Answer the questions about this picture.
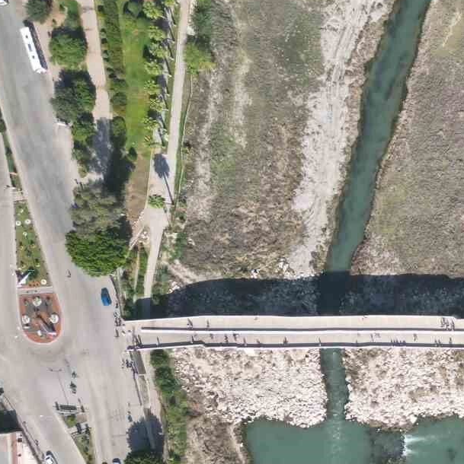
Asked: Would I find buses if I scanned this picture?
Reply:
Yes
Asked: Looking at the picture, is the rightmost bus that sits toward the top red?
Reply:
No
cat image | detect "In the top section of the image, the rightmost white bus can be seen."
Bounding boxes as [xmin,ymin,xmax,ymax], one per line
[14,24,48,70]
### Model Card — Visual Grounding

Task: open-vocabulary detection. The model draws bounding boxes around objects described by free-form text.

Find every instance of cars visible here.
[101,289,112,306]
[46,452,58,464]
